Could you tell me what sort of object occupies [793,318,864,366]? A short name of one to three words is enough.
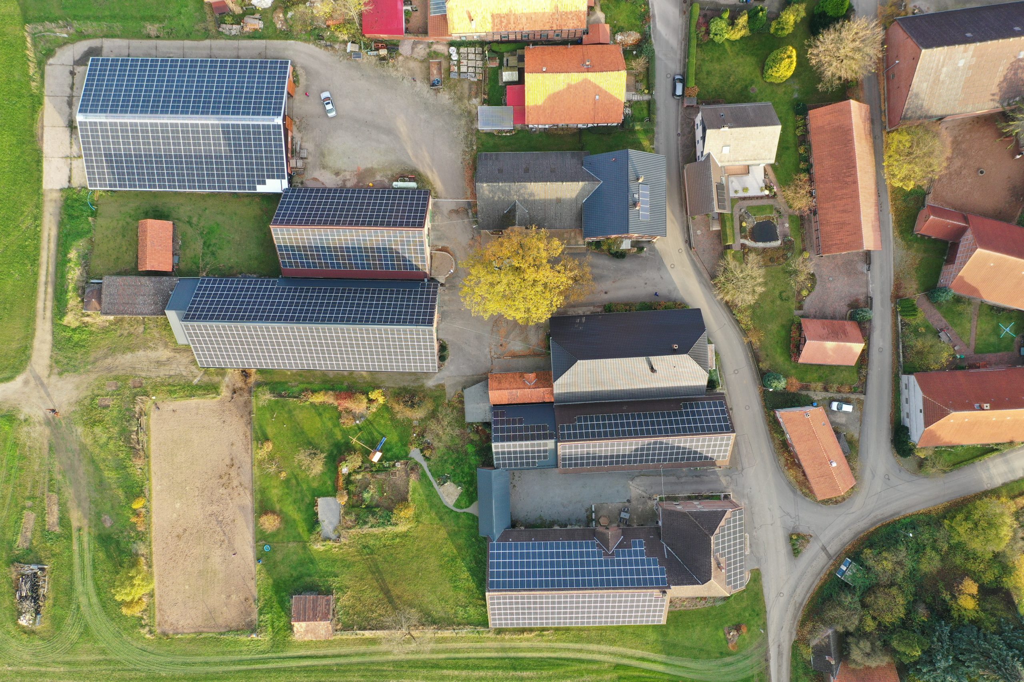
building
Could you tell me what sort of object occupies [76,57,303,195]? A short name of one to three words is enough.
barn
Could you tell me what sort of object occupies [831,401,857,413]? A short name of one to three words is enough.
vehicle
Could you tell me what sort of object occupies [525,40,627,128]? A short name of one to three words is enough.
house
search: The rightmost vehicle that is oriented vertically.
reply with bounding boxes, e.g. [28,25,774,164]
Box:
[673,72,686,98]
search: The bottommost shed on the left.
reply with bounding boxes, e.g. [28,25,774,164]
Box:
[291,592,335,640]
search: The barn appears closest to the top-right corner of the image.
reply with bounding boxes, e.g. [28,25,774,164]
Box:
[882,0,1024,126]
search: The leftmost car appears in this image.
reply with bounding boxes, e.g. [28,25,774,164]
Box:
[320,89,336,117]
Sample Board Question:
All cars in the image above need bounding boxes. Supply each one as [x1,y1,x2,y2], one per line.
[831,401,857,413]
[320,89,336,117]
[673,72,686,98]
